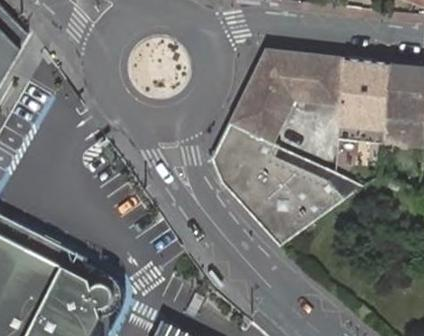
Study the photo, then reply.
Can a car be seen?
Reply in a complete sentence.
Yes, you can see a car in this photo.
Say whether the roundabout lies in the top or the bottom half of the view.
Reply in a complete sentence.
Seen from above, the roundabout lies in the top half of the view.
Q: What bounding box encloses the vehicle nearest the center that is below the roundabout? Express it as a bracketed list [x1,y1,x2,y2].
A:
[155,160,174,184]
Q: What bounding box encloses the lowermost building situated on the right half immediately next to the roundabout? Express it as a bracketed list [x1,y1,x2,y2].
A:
[214,126,362,246]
